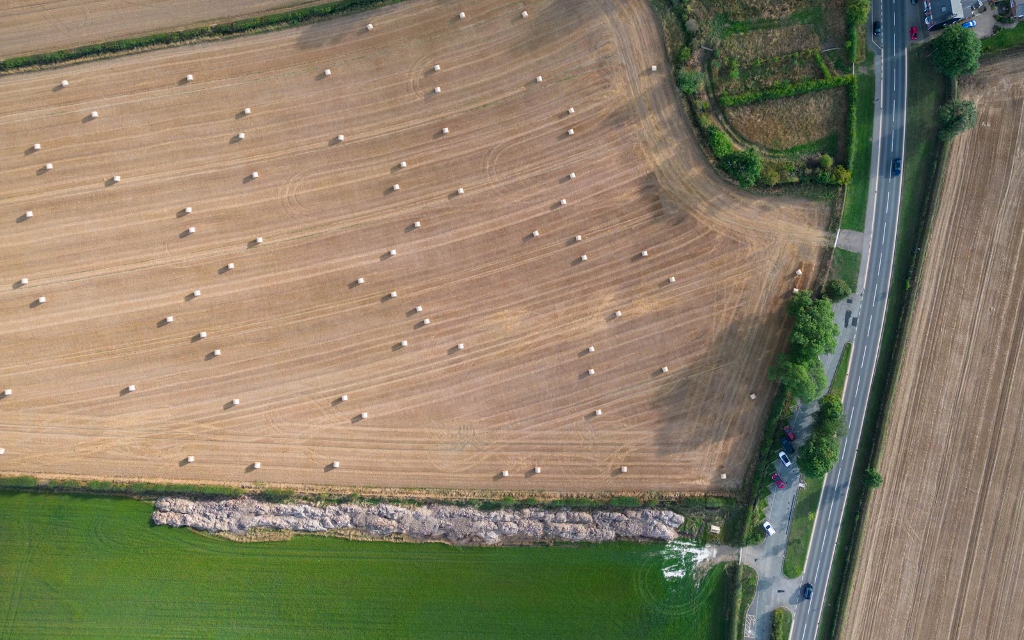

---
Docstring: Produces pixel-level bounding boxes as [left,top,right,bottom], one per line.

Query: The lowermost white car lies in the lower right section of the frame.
[762,521,776,535]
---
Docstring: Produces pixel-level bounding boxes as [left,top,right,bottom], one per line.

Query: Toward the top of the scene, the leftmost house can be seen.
[919,0,977,31]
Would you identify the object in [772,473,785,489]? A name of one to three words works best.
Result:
vehicle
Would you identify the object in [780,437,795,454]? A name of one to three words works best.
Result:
car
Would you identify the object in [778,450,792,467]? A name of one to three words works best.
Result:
car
